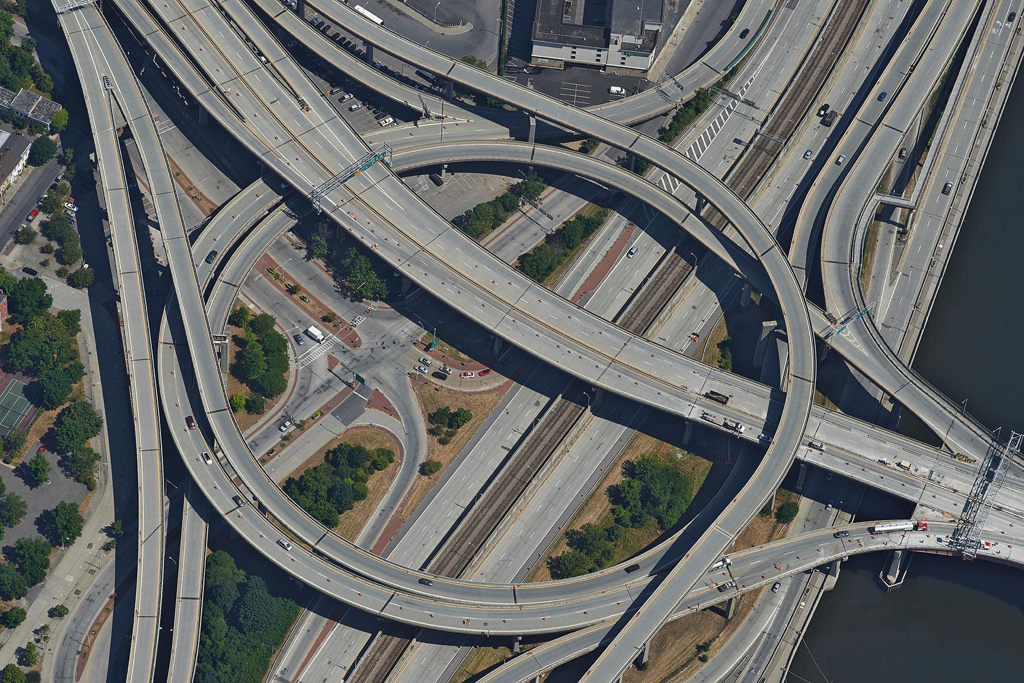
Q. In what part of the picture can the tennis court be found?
left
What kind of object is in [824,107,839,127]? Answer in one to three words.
vehicle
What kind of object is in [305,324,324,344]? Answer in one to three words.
vehicle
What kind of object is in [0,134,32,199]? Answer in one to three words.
house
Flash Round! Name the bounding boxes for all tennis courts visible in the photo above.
[0,349,46,457]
